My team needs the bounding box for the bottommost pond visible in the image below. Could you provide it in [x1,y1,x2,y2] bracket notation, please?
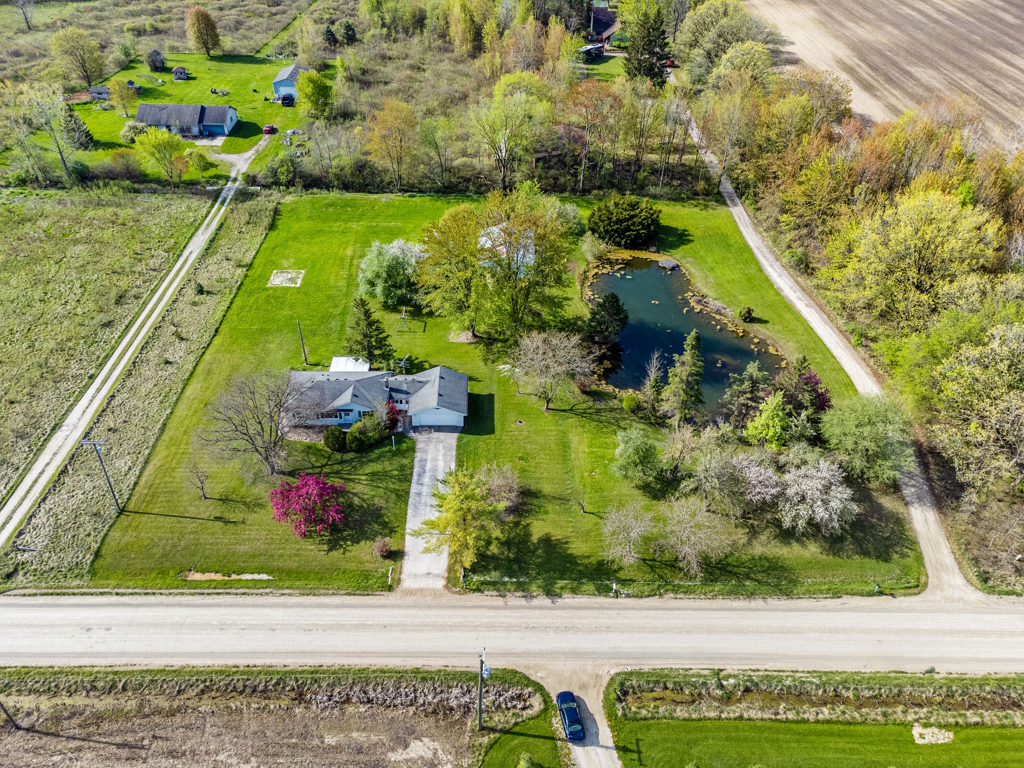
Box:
[588,249,788,427]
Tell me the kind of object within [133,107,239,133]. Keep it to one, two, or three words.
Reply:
house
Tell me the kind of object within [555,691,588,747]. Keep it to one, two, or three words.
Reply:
car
